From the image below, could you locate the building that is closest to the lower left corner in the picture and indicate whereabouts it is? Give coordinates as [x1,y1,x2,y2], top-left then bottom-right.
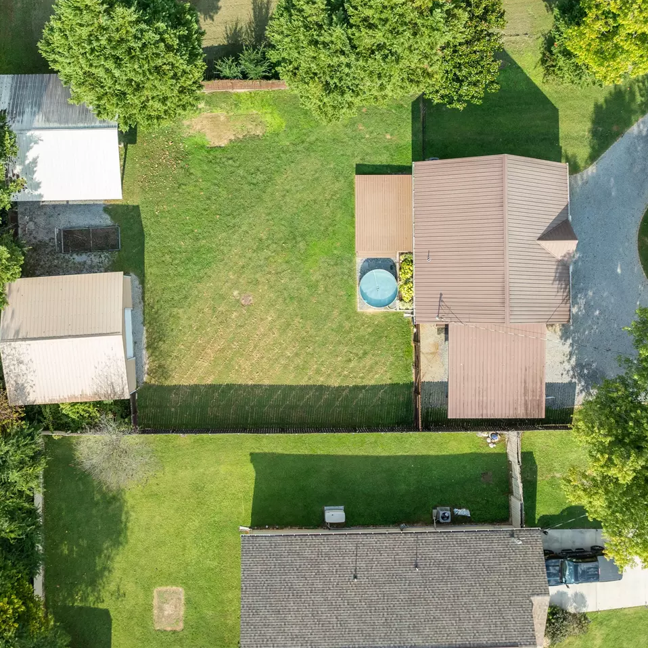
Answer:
[3,273,138,405]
